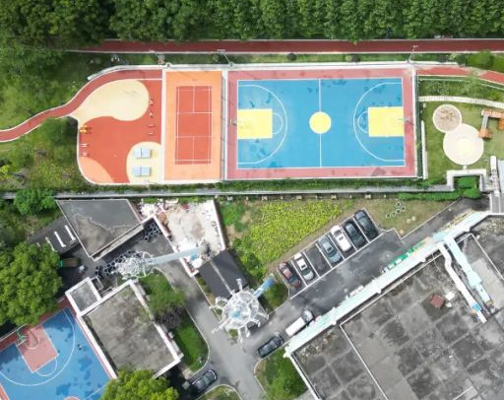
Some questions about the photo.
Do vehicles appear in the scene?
Yes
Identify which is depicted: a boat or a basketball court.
basketball court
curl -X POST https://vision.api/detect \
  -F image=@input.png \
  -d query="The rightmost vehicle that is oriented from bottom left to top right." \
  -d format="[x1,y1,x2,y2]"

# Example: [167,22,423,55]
[282,309,314,336]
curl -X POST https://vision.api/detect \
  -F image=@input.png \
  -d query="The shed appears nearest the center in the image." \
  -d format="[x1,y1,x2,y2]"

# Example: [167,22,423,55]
[199,250,252,299]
